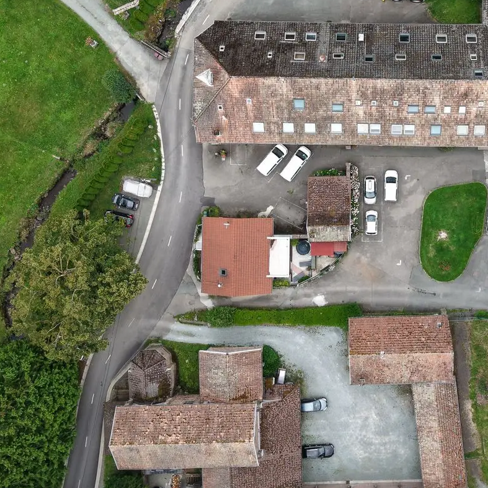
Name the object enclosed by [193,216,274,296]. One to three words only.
house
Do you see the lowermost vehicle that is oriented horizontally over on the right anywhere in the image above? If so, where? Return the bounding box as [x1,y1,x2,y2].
[303,443,333,458]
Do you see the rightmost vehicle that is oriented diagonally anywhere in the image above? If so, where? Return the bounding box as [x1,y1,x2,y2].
[280,146,310,181]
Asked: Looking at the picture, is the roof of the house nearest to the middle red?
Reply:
Yes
